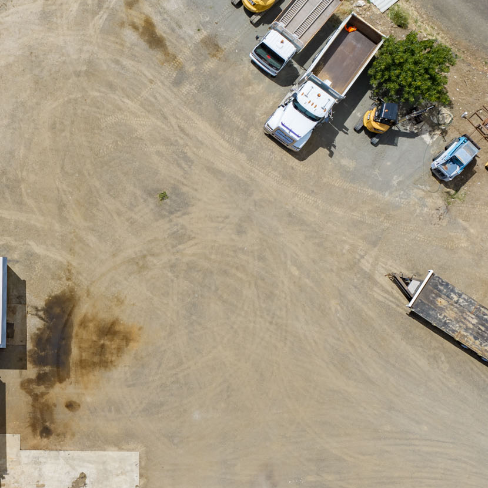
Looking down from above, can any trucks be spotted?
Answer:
Yes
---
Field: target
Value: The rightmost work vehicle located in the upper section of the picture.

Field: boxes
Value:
[428,129,482,186]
